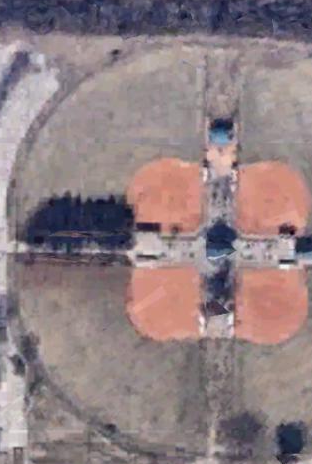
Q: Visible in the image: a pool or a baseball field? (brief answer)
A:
baseball field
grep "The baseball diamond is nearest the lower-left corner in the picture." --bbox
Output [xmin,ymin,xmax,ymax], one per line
[13,265,206,456]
